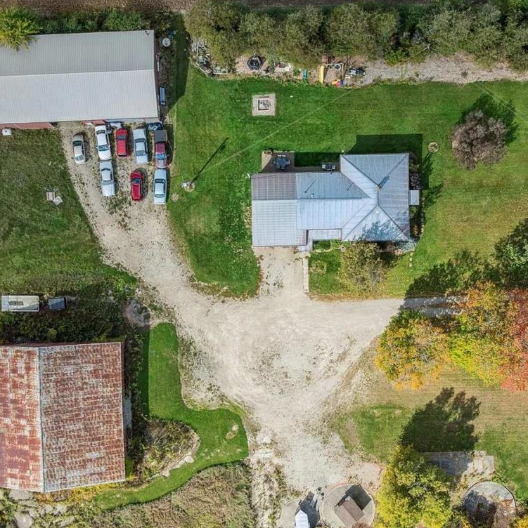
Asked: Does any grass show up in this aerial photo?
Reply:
Yes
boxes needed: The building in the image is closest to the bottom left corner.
[0,340,138,492]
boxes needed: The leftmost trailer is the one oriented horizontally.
[1,296,43,312]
